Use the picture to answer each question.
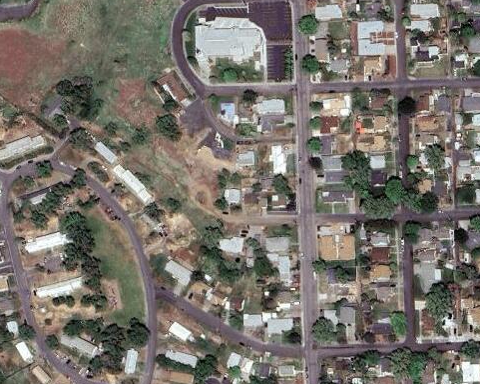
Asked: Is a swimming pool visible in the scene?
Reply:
No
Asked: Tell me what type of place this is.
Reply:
residential area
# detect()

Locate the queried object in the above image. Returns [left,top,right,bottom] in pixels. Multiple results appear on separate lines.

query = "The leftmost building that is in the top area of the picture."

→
[0,139,32,165]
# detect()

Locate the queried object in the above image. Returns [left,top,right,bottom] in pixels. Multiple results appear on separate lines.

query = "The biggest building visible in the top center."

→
[196,17,265,64]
